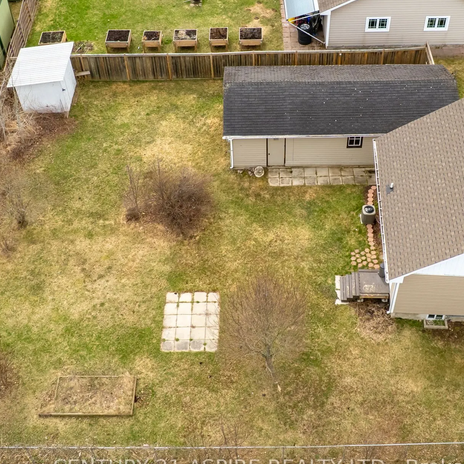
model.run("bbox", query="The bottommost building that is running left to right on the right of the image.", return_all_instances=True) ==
[222,65,460,172]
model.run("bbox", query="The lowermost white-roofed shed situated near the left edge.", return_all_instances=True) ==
[7,40,83,113]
